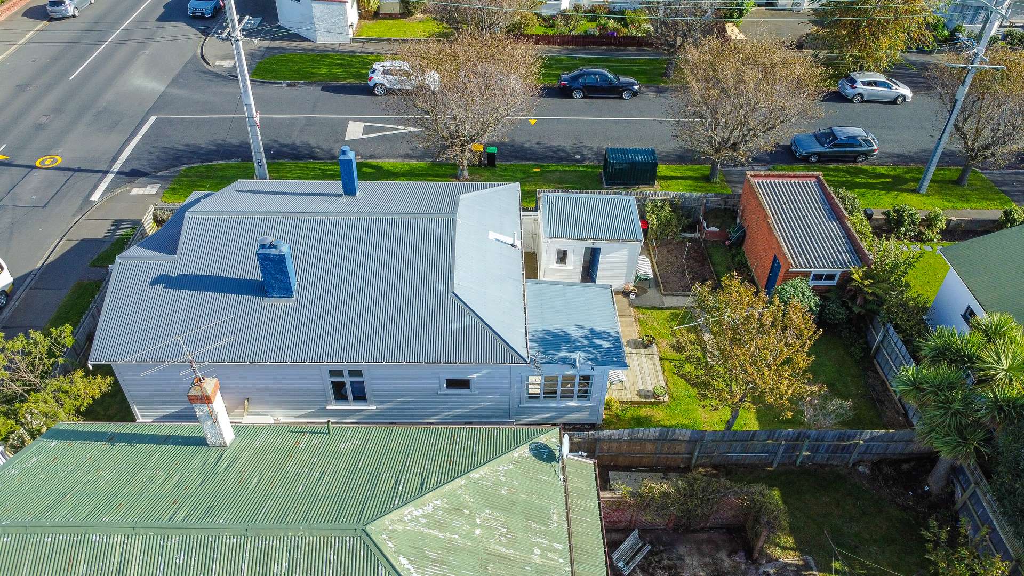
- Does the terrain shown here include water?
No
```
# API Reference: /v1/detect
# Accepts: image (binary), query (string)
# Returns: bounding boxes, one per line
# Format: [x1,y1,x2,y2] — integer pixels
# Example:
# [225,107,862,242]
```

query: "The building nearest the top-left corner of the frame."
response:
[271,0,368,41]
